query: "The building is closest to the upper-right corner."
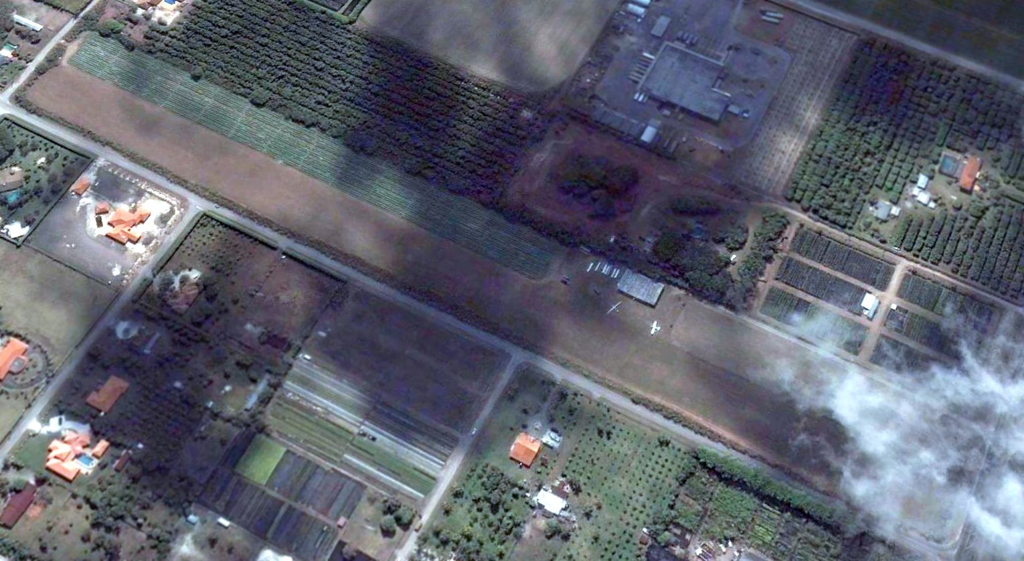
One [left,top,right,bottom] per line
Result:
[960,155,982,189]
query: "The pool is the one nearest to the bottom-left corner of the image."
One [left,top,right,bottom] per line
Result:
[75,450,96,468]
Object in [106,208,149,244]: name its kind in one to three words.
house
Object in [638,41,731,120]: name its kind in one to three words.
building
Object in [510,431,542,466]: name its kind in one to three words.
house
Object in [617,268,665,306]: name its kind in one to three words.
hangar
